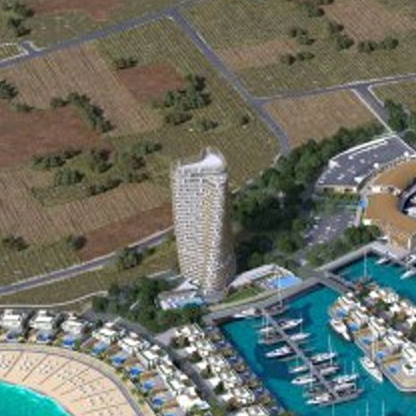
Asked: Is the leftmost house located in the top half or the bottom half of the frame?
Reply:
bottom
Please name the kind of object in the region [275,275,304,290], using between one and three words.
swimming pool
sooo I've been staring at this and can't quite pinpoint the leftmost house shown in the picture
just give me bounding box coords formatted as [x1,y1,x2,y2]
[1,308,26,341]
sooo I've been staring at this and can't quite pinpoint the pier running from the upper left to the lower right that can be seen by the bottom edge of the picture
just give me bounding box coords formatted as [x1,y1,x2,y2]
[256,311,367,409]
